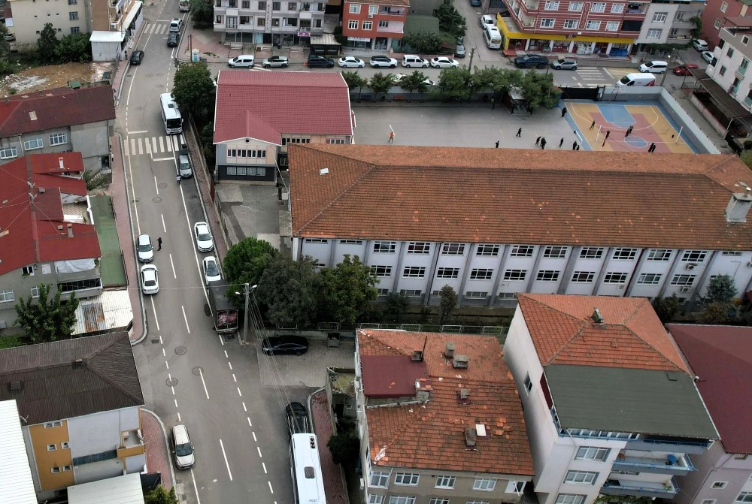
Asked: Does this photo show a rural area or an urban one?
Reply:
urban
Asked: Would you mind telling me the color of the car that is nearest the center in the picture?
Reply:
black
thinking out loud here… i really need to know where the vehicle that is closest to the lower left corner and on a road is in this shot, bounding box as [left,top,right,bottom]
[171,423,196,470]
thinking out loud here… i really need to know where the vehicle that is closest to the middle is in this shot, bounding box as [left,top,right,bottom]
[263,335,309,357]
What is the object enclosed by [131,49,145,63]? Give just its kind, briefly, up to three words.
car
